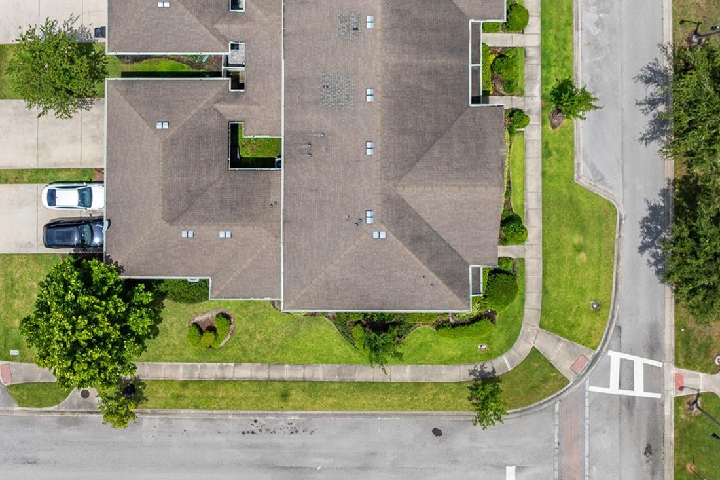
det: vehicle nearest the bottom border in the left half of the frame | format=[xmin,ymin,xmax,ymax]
[43,216,106,250]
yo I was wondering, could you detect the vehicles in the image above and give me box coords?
[41,180,106,212]
[43,216,106,250]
